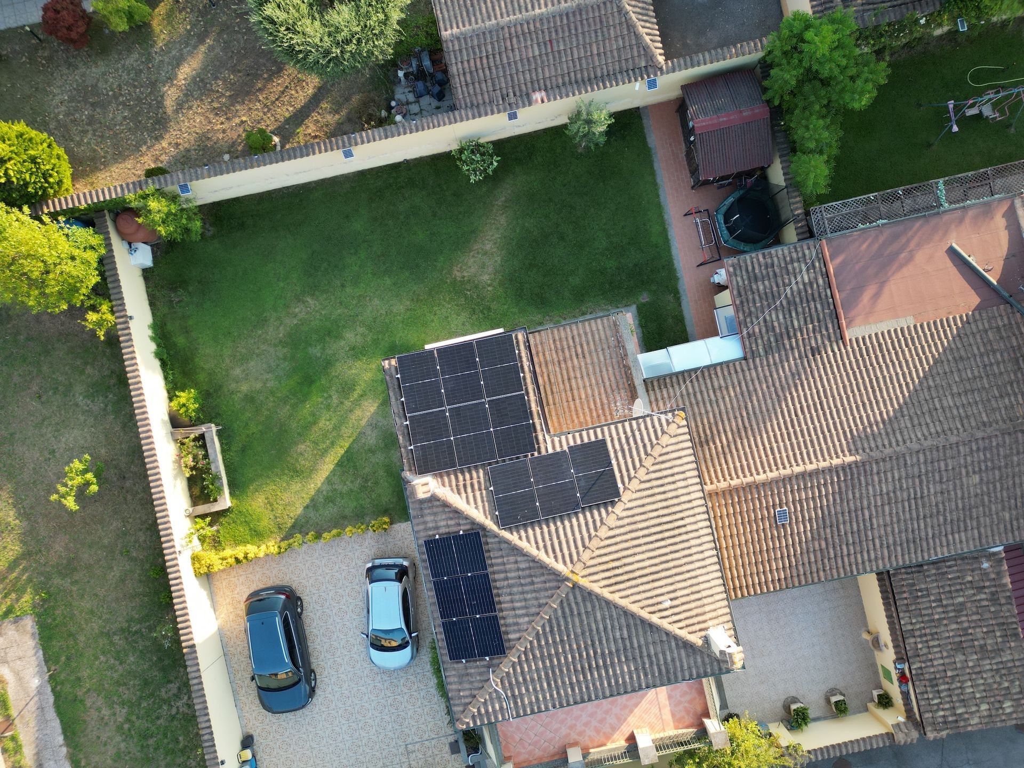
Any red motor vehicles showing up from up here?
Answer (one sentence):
No, there's no red motor vehicle here.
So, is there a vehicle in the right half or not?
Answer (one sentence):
No, there's no vehicle to be seen in the right half.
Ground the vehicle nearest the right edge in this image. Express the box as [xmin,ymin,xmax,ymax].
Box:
[359,555,419,672]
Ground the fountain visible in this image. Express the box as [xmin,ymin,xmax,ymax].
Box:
[862,626,883,655]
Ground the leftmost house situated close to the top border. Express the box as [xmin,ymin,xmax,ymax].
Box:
[433,0,666,111]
